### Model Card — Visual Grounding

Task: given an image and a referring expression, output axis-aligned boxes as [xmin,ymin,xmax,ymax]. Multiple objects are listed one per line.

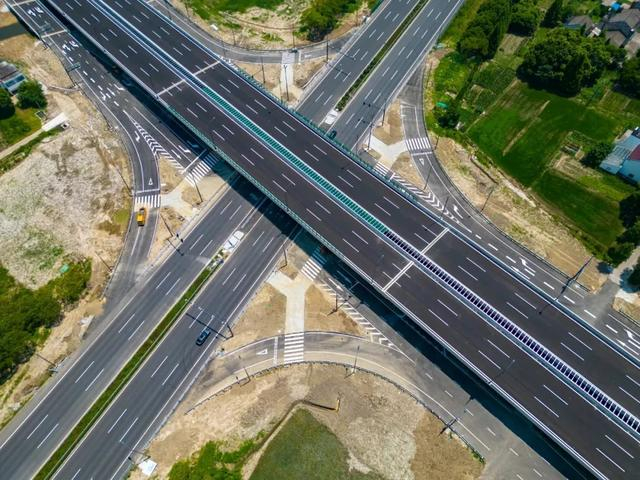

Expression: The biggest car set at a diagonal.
[196,327,211,345]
